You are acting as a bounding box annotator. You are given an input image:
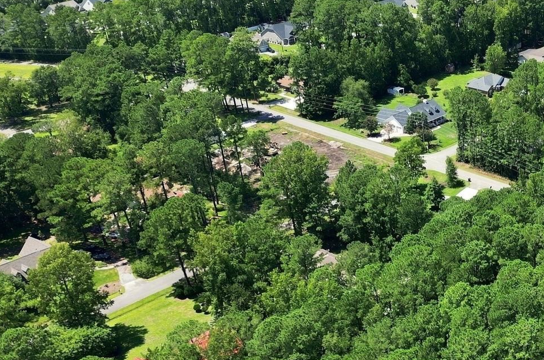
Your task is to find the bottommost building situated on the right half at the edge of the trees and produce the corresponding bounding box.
[371,96,444,132]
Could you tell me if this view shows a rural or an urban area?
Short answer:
rural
